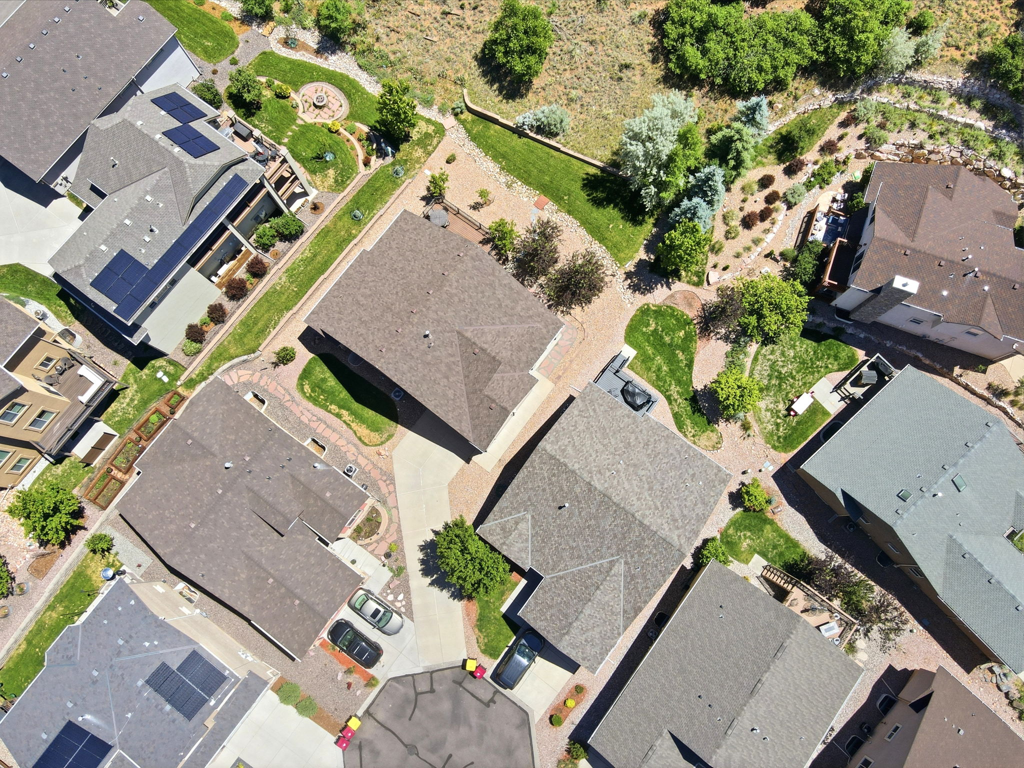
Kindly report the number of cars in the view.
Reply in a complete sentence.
The picture shows 3 cars.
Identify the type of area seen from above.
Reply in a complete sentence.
This looks like a residential area.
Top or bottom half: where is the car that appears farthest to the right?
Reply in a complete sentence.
The car that appears farthest to the right sits in the bottom half of the picture.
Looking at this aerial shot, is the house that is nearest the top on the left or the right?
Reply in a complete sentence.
The house that is nearest the top is on the left side of the image.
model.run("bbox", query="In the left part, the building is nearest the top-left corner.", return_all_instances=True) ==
[0,0,192,196]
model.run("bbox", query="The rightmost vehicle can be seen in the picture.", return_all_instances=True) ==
[496,623,547,696]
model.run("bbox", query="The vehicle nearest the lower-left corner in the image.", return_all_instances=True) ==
[327,617,385,675]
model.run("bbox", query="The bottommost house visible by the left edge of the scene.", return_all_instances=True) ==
[0,577,279,768]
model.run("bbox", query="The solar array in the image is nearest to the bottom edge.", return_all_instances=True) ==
[34,721,113,768]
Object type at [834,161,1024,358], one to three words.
house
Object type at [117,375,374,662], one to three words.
house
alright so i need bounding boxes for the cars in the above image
[327,617,385,675]
[348,586,408,636]
[496,623,547,696]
